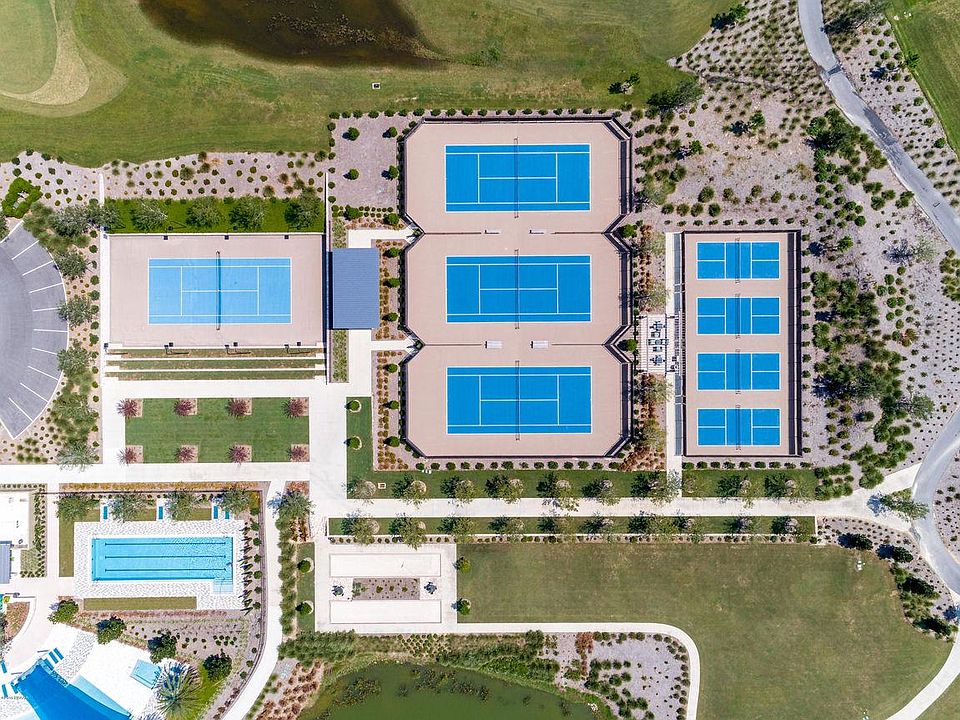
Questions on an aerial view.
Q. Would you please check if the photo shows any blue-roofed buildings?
Yes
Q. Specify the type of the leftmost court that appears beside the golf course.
tennis court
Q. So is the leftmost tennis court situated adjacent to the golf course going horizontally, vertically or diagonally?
horizontally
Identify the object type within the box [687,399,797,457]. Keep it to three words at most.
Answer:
sports court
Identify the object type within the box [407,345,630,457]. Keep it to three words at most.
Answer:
tennis court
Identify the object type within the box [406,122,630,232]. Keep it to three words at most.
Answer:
tennis court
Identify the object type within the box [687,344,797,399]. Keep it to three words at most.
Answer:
sports court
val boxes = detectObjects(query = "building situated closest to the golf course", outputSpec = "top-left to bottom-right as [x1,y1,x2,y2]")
[333,248,381,329]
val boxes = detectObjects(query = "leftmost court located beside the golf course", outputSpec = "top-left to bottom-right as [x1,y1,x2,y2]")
[112,237,327,347]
